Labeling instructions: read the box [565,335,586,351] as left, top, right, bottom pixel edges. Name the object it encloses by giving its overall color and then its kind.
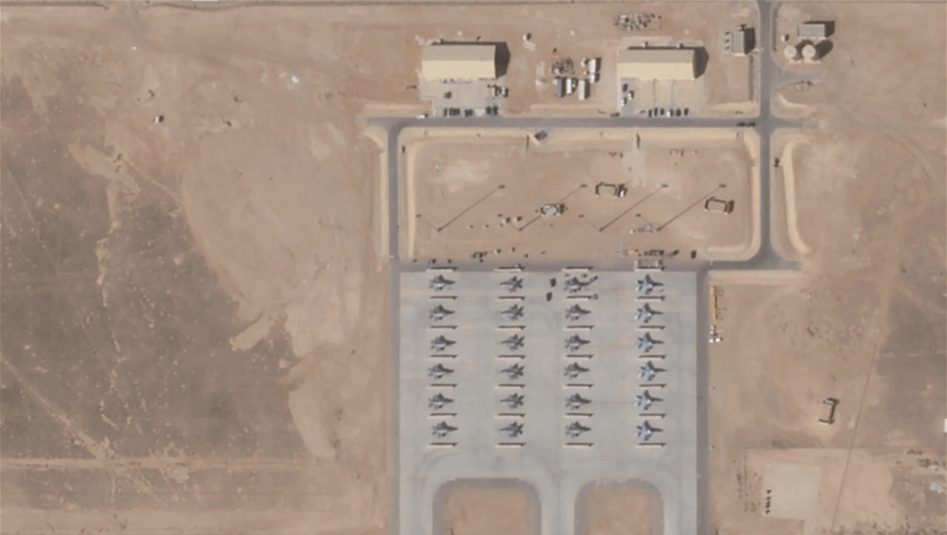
gray airplane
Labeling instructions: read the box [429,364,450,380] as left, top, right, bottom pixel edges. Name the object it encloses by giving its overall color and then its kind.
gray airplane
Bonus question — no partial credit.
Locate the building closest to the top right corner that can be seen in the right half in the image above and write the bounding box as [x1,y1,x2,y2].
[799,24,828,42]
